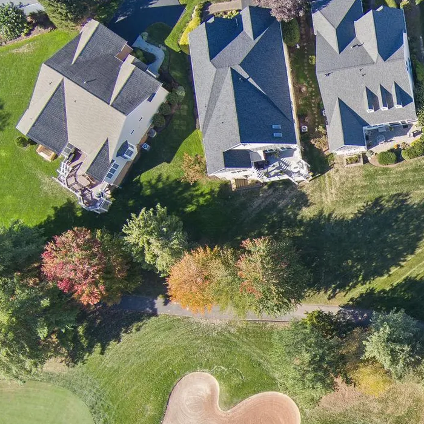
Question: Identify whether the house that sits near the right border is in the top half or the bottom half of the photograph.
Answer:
top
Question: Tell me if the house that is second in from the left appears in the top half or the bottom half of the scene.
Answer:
top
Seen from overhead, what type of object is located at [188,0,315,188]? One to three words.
house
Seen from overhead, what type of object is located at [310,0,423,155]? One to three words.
house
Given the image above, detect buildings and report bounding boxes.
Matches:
[15,19,171,217]
[310,0,423,155]
[188,0,315,188]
